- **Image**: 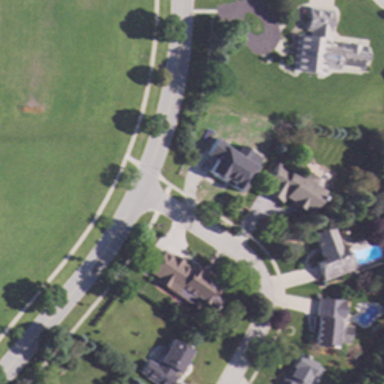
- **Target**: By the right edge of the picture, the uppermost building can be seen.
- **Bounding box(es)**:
[299,7,370,74]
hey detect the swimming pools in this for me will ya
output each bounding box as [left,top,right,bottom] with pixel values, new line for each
[355,244,382,265]
[354,302,384,328]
